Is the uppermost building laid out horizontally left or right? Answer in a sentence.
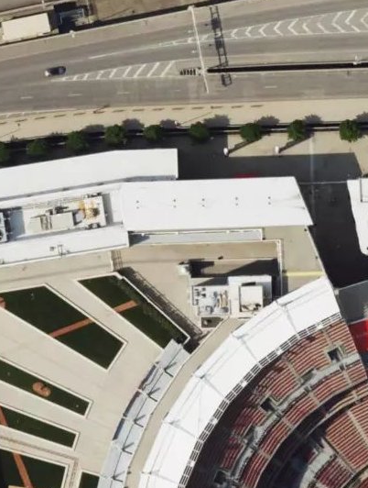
You can find the uppermost building laid out horizontally on the left side of the picture.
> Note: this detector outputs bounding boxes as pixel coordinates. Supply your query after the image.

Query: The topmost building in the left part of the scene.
[0,148,187,199]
